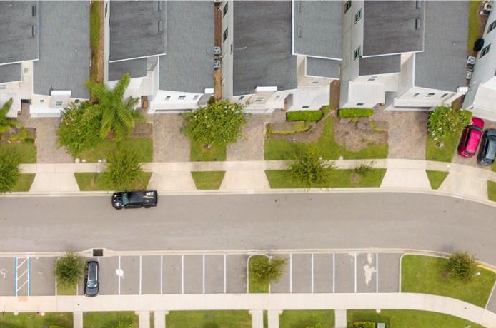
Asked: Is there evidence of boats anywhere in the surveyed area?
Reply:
No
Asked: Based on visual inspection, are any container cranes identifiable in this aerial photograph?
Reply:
No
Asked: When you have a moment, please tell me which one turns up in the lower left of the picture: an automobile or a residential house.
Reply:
automobile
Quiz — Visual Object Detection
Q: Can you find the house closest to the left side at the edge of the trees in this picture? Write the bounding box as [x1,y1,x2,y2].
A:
[0,0,89,124]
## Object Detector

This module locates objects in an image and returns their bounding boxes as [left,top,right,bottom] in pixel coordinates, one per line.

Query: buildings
[220,0,338,115]
[341,0,468,114]
[466,13,496,116]
[102,0,213,115]
[0,0,89,124]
